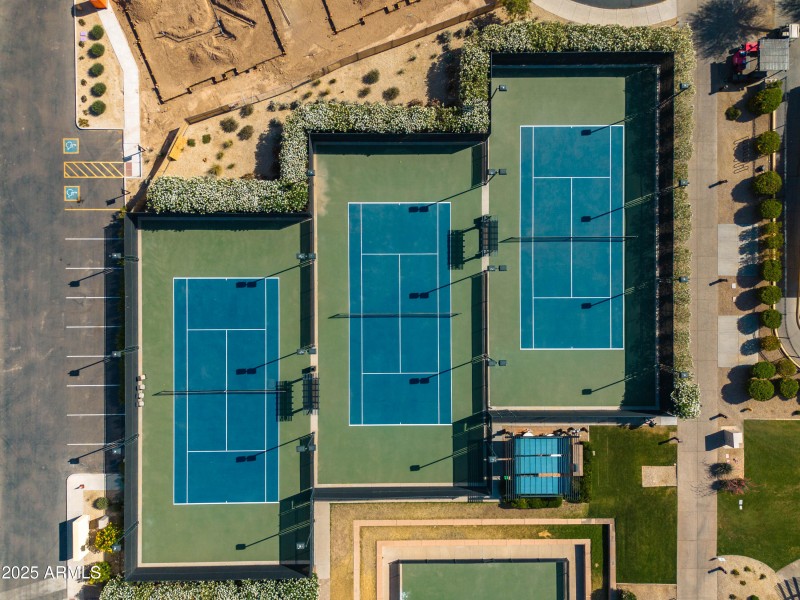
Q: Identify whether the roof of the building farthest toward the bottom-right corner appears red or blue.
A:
blue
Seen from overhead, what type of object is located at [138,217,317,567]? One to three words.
tennis court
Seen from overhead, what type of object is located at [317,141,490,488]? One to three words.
tennis court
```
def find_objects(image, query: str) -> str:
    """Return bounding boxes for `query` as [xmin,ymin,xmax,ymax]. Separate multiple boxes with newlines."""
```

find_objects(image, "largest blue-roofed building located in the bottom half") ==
[505,430,580,500]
